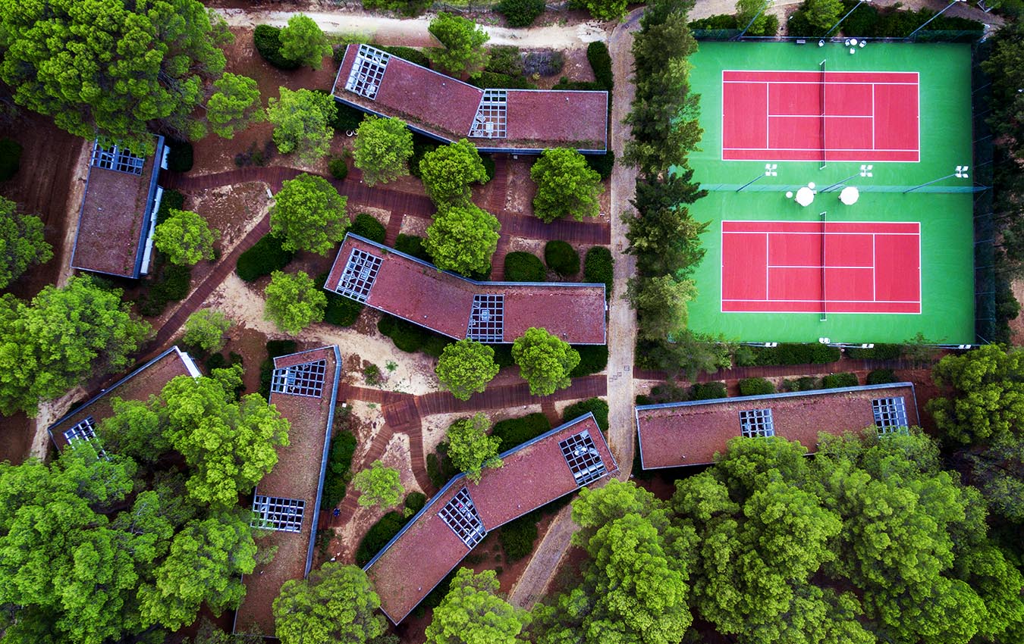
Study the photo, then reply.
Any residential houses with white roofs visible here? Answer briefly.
No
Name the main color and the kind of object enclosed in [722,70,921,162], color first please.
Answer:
red tennis court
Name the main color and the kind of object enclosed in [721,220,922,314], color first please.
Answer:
red tennis court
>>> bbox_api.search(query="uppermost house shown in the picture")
[331,40,608,155]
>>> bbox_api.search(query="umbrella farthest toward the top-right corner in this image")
[836,186,858,205]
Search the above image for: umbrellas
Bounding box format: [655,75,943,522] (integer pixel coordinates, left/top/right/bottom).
[836,186,858,205]
[793,187,814,206]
